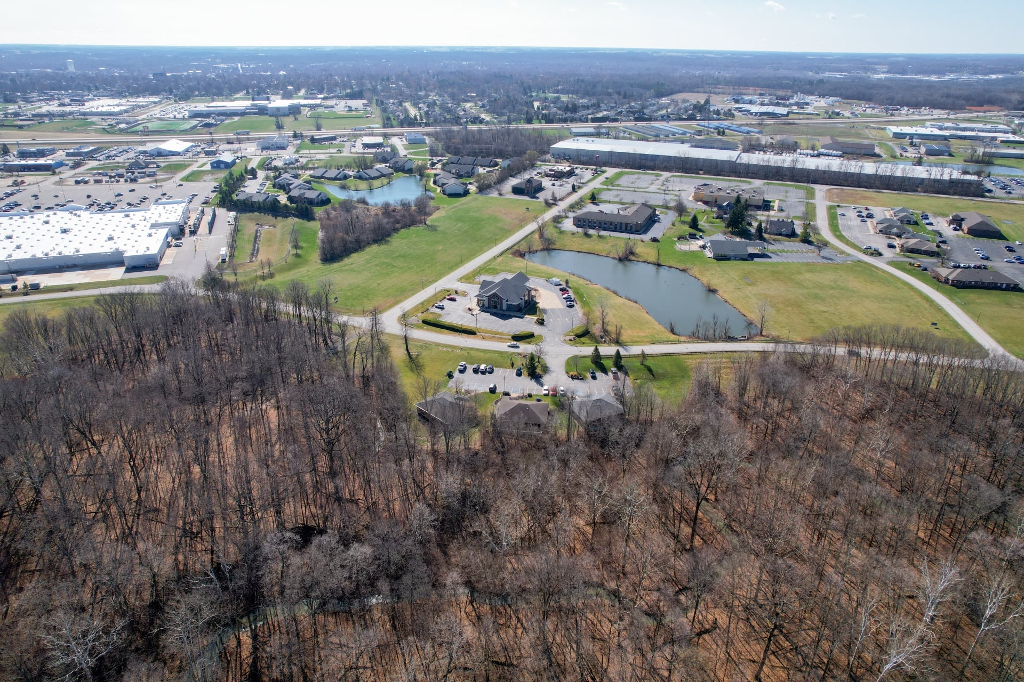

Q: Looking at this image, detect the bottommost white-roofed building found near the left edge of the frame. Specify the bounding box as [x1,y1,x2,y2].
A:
[0,201,190,274]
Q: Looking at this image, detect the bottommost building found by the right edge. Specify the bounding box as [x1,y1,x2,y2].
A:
[930,266,1023,290]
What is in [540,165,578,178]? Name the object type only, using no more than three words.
building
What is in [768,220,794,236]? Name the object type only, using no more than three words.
house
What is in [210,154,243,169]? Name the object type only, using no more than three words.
barn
